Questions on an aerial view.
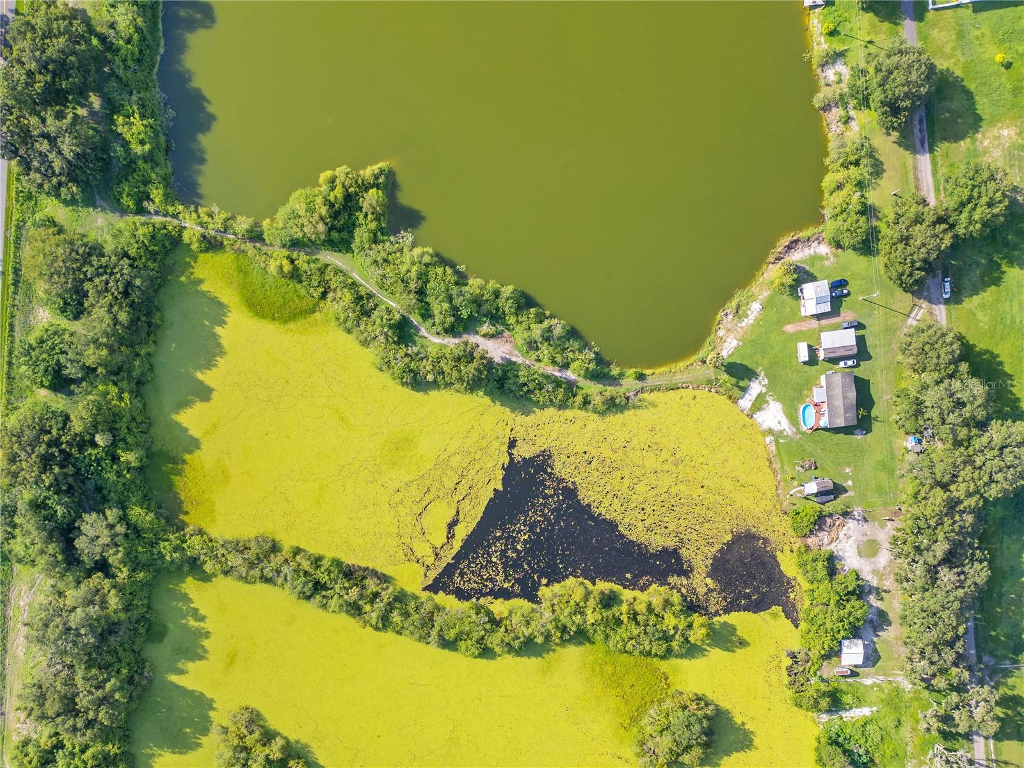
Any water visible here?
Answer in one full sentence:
Yes, there is water in the image.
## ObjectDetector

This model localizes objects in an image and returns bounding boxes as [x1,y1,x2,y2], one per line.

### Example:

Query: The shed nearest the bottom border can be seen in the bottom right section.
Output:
[838,637,865,664]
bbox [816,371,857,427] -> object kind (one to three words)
house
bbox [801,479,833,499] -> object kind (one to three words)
house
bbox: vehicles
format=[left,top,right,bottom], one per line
[828,278,847,288]
[941,278,952,299]
[831,287,849,297]
[840,320,860,329]
[838,359,857,368]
